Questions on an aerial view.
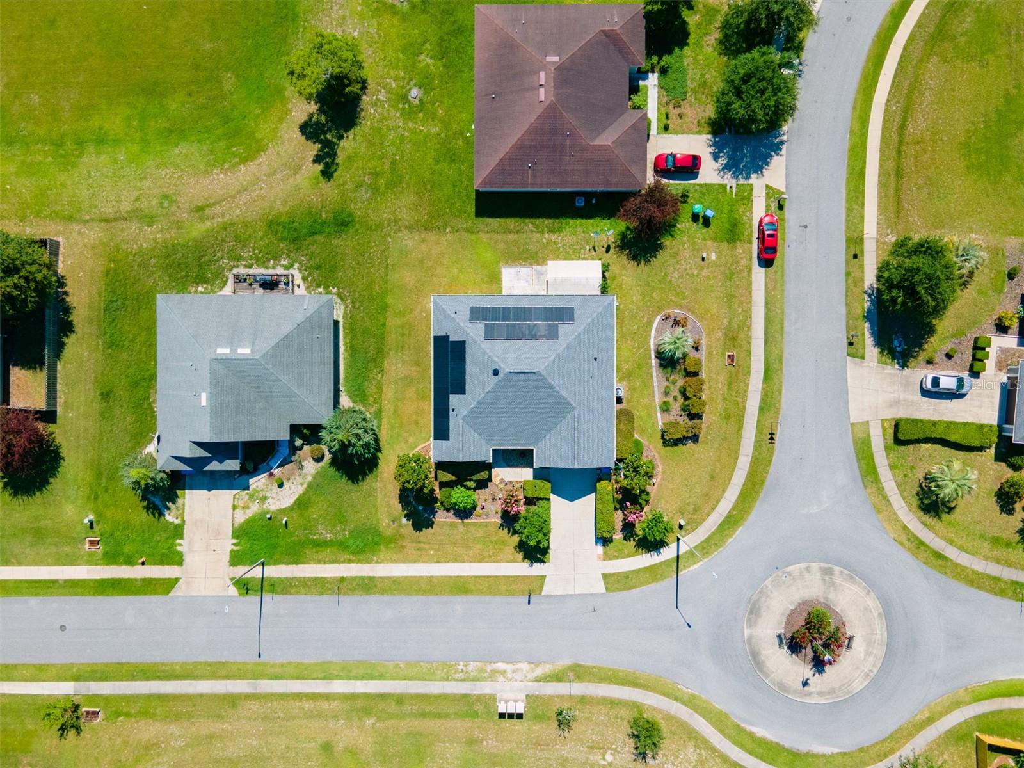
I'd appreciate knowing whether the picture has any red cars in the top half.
Yes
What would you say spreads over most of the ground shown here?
grass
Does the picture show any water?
No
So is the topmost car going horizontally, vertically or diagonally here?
horizontally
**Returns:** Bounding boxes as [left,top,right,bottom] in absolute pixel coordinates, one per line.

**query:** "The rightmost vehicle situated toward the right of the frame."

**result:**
[921,373,971,395]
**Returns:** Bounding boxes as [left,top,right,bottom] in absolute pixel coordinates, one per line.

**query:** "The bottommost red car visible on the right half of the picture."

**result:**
[756,213,781,260]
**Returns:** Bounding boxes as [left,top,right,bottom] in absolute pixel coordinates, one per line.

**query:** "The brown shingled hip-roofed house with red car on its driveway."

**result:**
[474,4,647,192]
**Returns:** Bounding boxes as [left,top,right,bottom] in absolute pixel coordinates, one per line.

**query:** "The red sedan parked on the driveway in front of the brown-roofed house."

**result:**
[654,149,701,173]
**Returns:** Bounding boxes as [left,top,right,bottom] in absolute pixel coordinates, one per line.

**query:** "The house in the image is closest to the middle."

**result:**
[431,261,623,472]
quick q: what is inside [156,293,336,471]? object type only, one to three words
house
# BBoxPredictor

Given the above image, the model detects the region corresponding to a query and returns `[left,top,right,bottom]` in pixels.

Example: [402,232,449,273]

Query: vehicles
[921,373,971,395]
[756,213,781,260]
[654,149,701,173]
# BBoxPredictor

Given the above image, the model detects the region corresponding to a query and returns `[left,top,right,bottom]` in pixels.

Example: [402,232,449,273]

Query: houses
[1001,358,1024,444]
[156,293,336,471]
[431,261,623,472]
[0,327,10,406]
[474,4,647,192]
